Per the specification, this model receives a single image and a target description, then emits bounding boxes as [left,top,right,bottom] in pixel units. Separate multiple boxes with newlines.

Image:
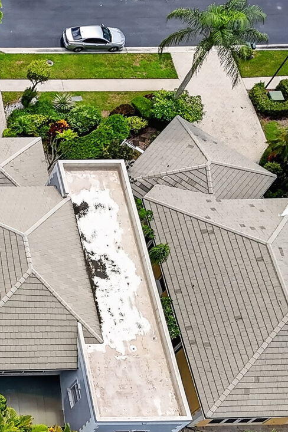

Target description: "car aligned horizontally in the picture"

[57,20,123,50]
